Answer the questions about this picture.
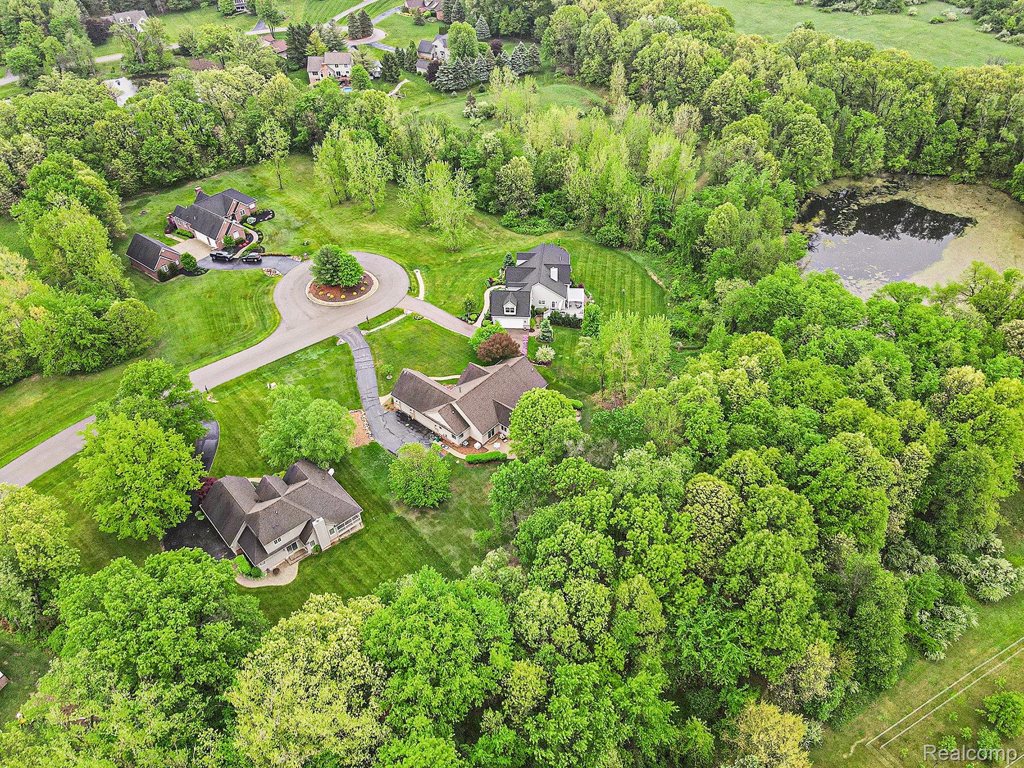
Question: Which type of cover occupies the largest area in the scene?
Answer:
trees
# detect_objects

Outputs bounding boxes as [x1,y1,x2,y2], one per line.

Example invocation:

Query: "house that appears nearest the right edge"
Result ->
[490,244,585,326]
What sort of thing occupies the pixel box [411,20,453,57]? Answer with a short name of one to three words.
house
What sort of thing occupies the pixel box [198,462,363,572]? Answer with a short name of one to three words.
house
